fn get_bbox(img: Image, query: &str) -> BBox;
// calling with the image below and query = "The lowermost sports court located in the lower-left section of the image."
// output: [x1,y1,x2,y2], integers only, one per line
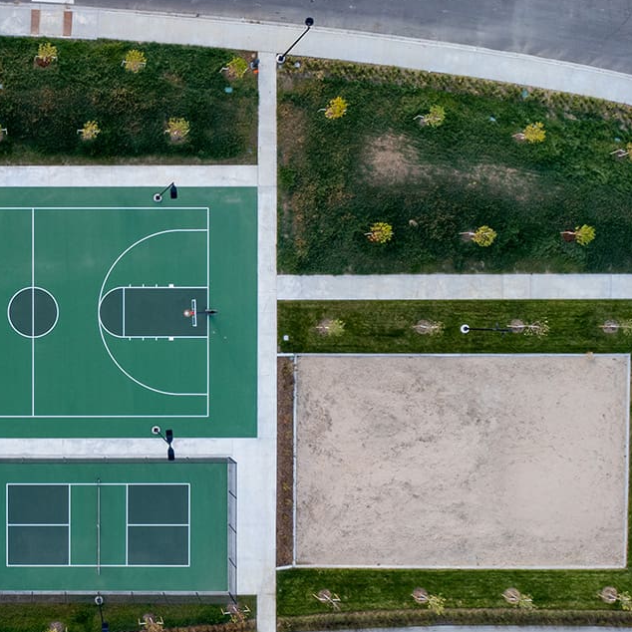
[0,458,228,591]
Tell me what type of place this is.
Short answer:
sports ground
